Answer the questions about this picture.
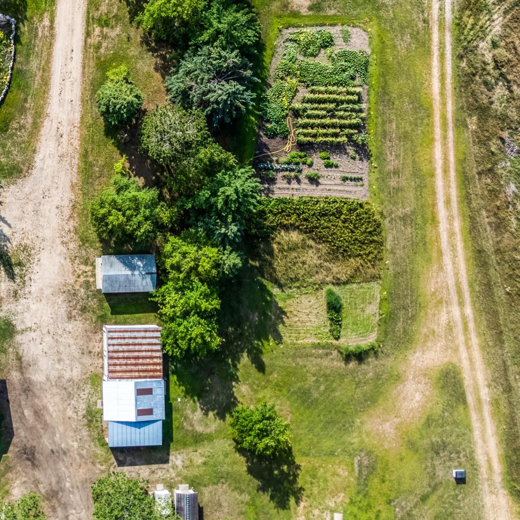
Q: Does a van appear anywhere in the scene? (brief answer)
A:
No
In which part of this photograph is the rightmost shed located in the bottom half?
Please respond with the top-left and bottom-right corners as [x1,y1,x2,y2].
[174,489,198,520]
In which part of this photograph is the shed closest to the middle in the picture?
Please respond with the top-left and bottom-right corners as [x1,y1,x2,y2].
[96,255,157,293]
